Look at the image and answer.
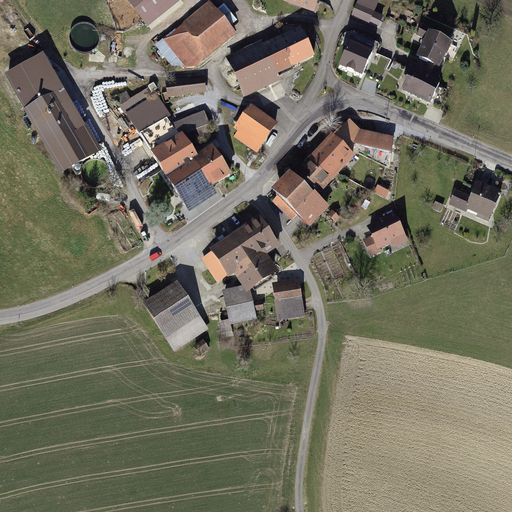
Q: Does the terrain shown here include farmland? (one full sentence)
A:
Yes, farmland shows up in the scene.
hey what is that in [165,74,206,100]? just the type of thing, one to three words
shed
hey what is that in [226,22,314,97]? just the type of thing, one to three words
house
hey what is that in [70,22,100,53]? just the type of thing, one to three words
storage tank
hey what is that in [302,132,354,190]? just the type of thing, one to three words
building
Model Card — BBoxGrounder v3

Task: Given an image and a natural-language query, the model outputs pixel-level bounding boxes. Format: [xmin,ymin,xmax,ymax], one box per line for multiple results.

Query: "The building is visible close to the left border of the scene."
[6,51,100,174]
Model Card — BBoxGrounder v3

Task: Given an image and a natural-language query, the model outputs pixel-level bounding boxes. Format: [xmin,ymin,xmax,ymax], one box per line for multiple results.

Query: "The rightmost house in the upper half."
[449,179,501,222]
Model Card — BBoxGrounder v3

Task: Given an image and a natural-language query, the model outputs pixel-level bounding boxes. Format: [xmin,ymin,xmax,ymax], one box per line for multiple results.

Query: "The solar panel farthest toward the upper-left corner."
[176,171,216,210]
